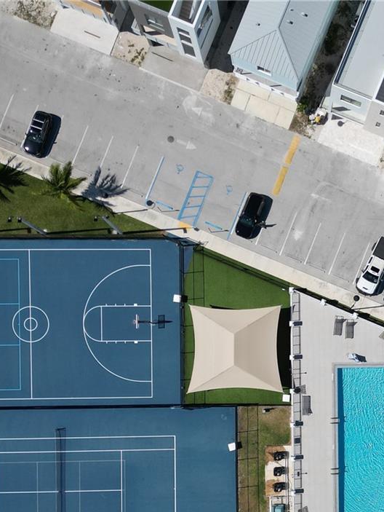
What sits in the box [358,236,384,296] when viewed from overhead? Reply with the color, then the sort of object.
white truck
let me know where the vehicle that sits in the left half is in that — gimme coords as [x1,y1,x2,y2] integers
[24,109,52,158]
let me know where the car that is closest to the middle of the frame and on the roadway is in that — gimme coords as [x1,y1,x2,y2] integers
[235,191,268,241]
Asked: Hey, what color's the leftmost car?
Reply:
black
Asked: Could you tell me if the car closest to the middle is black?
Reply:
Yes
